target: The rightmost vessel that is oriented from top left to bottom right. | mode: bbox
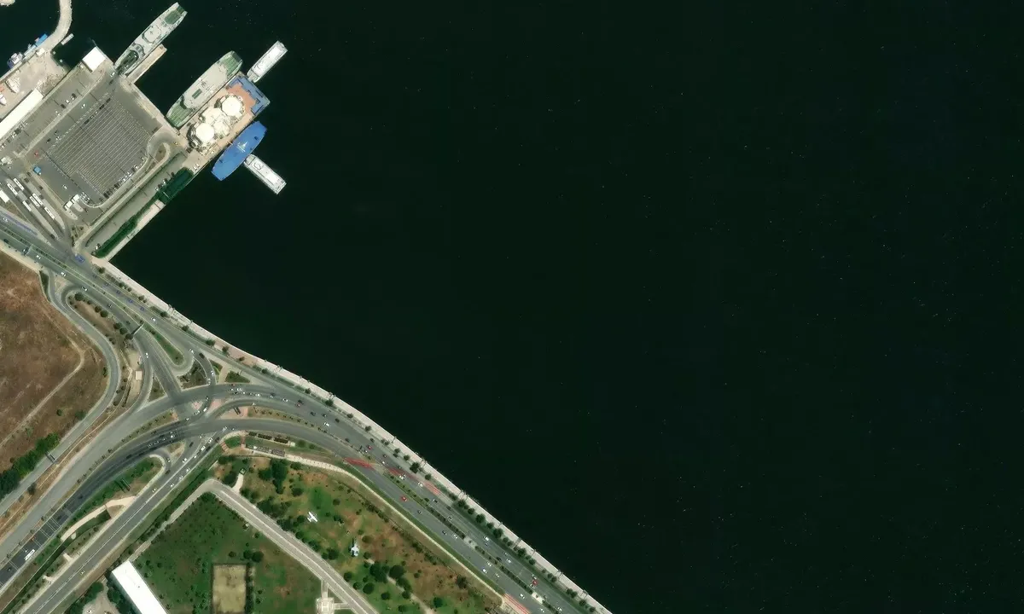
[245,155,285,194]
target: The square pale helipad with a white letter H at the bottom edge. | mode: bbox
[315,580,350,614]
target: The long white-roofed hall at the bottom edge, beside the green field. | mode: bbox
[112,560,167,614]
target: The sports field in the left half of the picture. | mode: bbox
[211,563,247,614]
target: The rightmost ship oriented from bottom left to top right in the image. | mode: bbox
[248,42,286,82]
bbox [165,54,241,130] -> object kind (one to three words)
ship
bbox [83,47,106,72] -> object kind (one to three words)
shed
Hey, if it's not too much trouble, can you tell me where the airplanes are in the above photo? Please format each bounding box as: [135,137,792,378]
[307,511,319,522]
[351,541,360,557]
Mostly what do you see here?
water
